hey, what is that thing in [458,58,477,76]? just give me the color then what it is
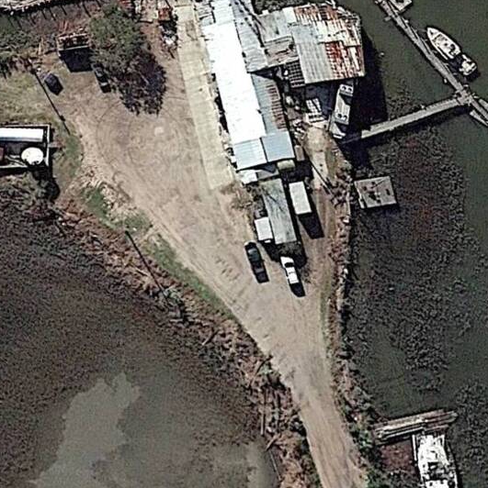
white boat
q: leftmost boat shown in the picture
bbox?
[330,80,353,139]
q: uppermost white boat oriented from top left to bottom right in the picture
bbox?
[426,26,460,60]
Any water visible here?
Yes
